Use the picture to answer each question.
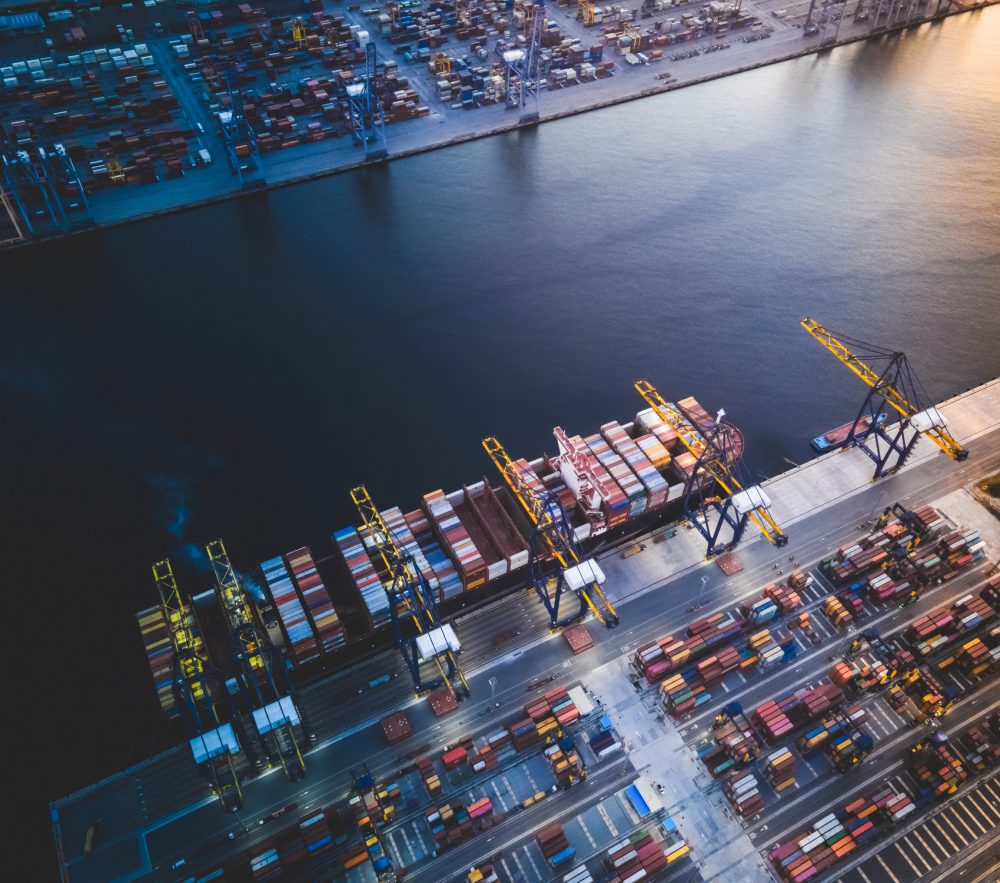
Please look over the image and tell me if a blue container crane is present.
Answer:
Yes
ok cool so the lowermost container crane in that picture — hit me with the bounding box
[358,817,400,883]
